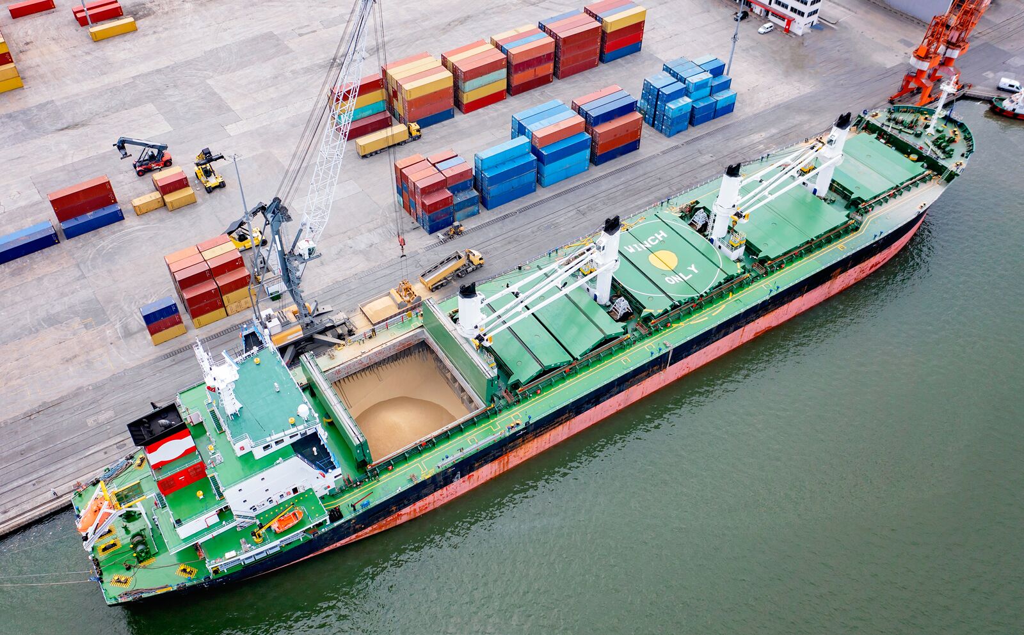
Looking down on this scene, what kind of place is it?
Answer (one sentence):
The picture captures a port.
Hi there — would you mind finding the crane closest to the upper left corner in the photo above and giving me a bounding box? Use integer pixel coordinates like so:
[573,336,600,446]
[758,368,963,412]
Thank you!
[235,0,398,370]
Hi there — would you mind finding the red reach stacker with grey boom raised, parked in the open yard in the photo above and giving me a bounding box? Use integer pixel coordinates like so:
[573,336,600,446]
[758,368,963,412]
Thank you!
[119,144,171,176]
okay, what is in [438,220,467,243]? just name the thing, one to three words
work vehicle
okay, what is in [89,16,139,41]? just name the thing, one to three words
shipping container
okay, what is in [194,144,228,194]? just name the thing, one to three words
work vehicle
